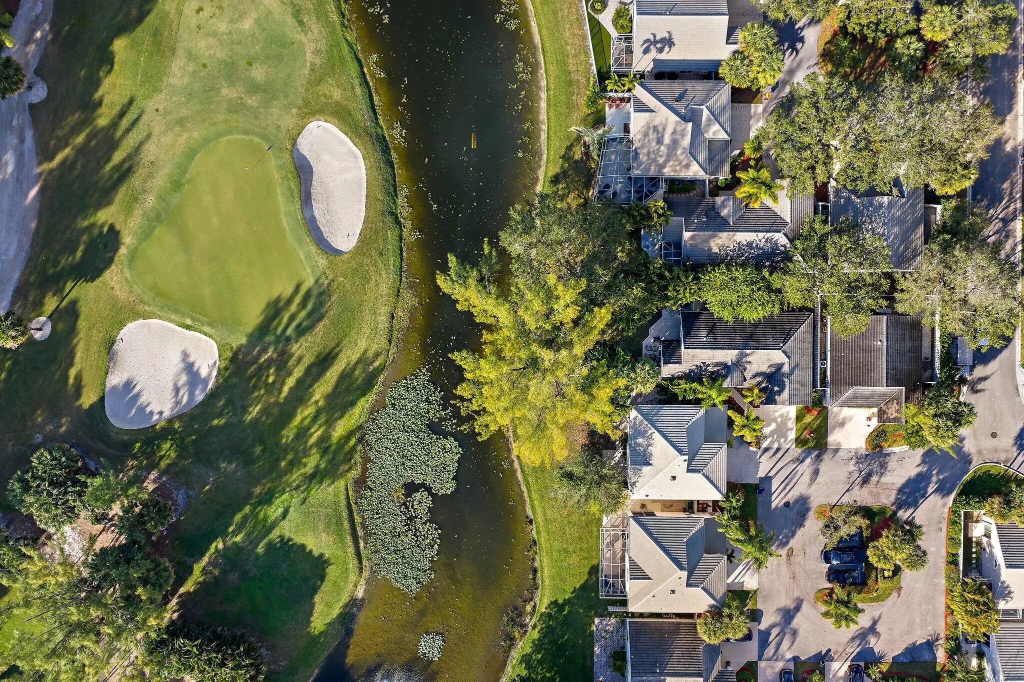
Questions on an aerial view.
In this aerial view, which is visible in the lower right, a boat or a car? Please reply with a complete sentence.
There is a car in the lower right.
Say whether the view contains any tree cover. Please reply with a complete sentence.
Yes, the picture does contain tree cover.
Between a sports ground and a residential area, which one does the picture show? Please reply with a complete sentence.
This image shows a residential area.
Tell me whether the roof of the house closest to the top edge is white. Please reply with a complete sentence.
Yes, the roof of the house closest to the top edge appears white.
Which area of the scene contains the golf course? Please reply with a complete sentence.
You can find the golf course in the left area of the picture.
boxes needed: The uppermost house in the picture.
[633,0,742,71]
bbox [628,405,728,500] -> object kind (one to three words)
house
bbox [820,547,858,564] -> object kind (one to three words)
car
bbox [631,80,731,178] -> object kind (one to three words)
house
